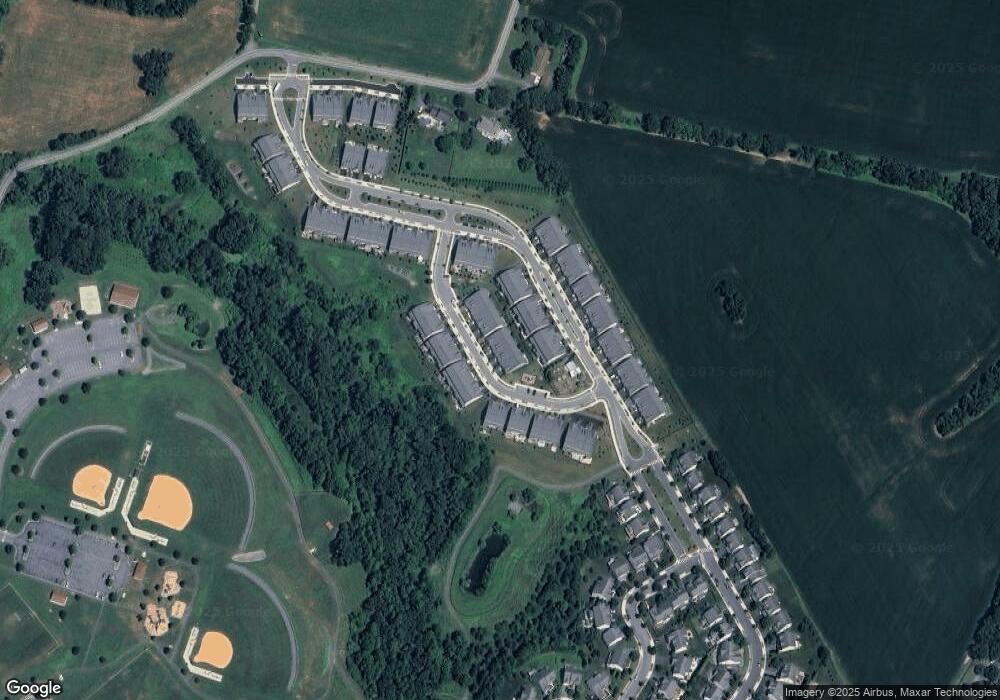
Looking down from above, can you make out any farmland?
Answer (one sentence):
Yes, the picture does contain farmland.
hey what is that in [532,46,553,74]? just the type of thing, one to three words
barn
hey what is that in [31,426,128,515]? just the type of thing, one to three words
baseball field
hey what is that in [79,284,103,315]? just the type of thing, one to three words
sports court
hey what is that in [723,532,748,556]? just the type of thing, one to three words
house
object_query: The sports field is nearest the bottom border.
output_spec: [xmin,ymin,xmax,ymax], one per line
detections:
[82,648,190,700]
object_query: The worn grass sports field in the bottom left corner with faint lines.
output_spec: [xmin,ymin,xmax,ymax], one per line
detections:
[0,584,58,665]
